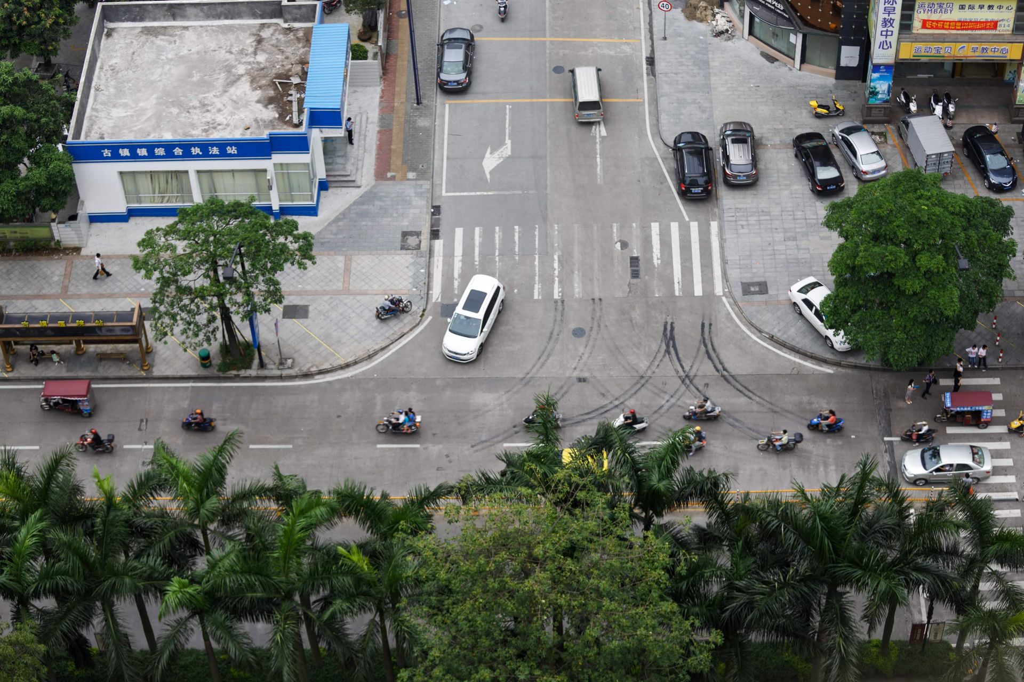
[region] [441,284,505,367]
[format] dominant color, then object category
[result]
white car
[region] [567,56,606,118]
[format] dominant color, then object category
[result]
white van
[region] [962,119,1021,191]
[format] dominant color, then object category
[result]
black car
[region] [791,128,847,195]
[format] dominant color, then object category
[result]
black car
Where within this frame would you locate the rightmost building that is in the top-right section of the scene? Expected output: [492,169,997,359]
[895,0,1024,83]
